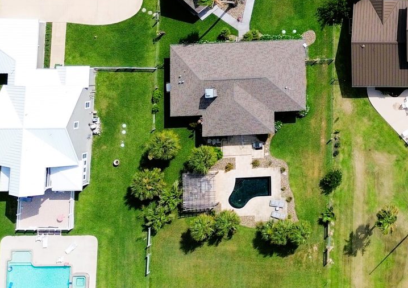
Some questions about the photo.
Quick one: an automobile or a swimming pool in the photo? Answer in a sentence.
Of the two, only a swimming pool appears.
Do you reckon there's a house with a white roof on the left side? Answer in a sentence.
Yes, looking on the left side, one can make out a house with a white roof.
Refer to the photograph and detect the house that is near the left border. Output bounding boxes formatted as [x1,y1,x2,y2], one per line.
[0,19,96,196]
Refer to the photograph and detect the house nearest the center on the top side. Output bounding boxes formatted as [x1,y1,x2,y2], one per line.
[170,39,306,137]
